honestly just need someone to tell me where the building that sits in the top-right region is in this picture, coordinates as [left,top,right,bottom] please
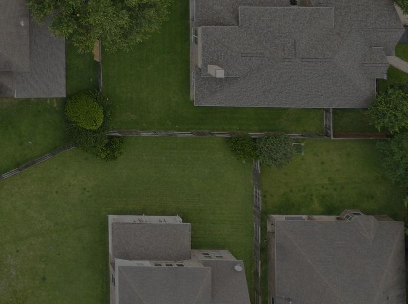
[186,0,408,108]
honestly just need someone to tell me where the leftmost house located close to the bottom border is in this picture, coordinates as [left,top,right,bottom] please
[105,215,248,304]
